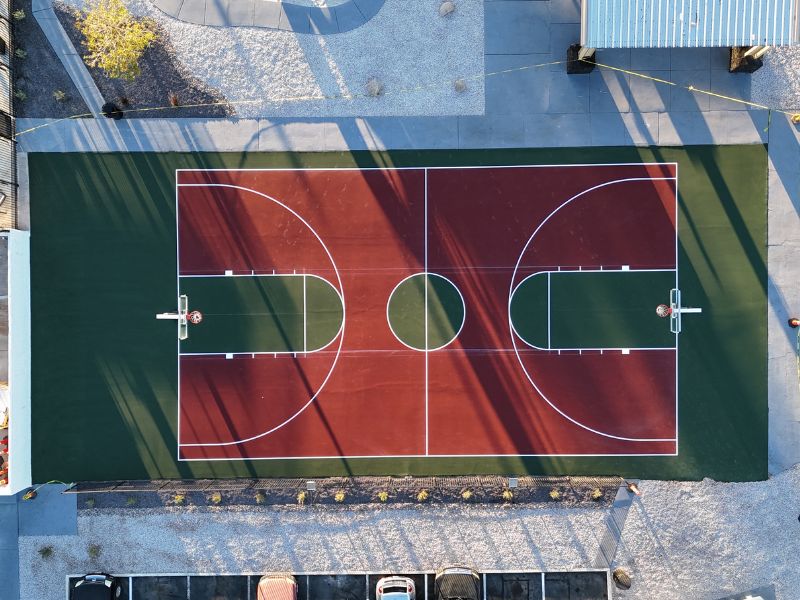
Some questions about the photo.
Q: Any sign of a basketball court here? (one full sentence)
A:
Yes, there is a basketball court in the image.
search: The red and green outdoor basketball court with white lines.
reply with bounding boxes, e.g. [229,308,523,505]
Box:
[29,145,769,485]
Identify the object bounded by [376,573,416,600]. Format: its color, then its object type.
white car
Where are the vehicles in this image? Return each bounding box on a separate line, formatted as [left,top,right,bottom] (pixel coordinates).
[258,568,300,600]
[376,573,416,600]
[77,570,123,600]
[435,562,480,600]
